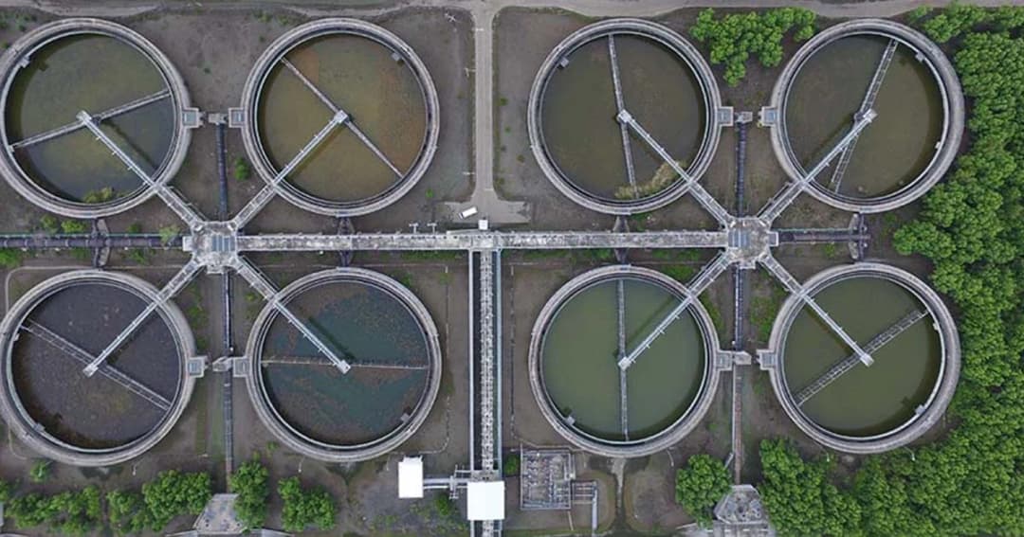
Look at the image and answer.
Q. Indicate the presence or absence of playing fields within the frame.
No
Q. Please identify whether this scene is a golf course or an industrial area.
industrial area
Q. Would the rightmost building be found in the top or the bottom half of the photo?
bottom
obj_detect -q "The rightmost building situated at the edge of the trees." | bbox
[674,481,772,537]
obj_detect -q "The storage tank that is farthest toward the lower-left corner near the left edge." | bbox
[0,270,208,464]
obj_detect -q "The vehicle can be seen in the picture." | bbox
[459,206,479,219]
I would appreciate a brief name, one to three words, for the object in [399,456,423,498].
shed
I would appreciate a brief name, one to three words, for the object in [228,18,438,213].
storage tank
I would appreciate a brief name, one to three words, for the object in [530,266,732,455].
storage tank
